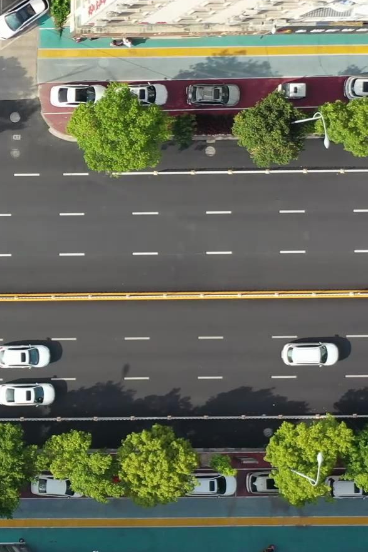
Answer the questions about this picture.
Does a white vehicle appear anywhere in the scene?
Yes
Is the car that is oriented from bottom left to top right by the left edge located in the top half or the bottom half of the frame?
top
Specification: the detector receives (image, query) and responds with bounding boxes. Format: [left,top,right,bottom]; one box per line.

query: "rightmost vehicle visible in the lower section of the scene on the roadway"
[280,341,337,369]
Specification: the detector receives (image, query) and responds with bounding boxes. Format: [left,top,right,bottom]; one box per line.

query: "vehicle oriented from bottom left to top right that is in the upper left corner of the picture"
[0,0,49,41]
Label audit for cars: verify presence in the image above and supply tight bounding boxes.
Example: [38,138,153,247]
[181,472,236,500]
[343,75,368,101]
[323,476,368,503]
[48,82,103,109]
[0,0,49,41]
[243,471,289,496]
[113,81,167,107]
[29,473,80,499]
[183,80,239,109]
[280,341,337,369]
[0,343,48,370]
[0,381,54,409]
